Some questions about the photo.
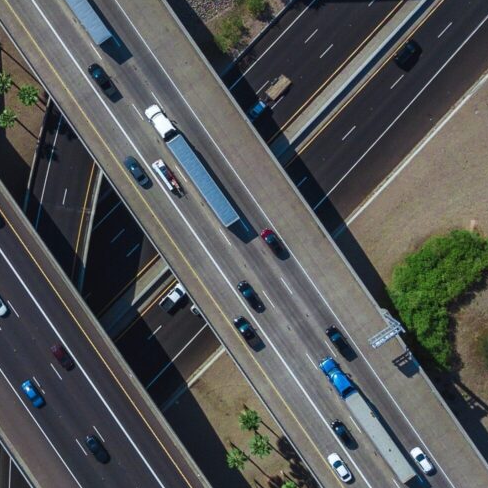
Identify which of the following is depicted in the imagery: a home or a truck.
truck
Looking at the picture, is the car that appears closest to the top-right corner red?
No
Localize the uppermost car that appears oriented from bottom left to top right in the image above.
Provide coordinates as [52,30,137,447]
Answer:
[394,41,420,68]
